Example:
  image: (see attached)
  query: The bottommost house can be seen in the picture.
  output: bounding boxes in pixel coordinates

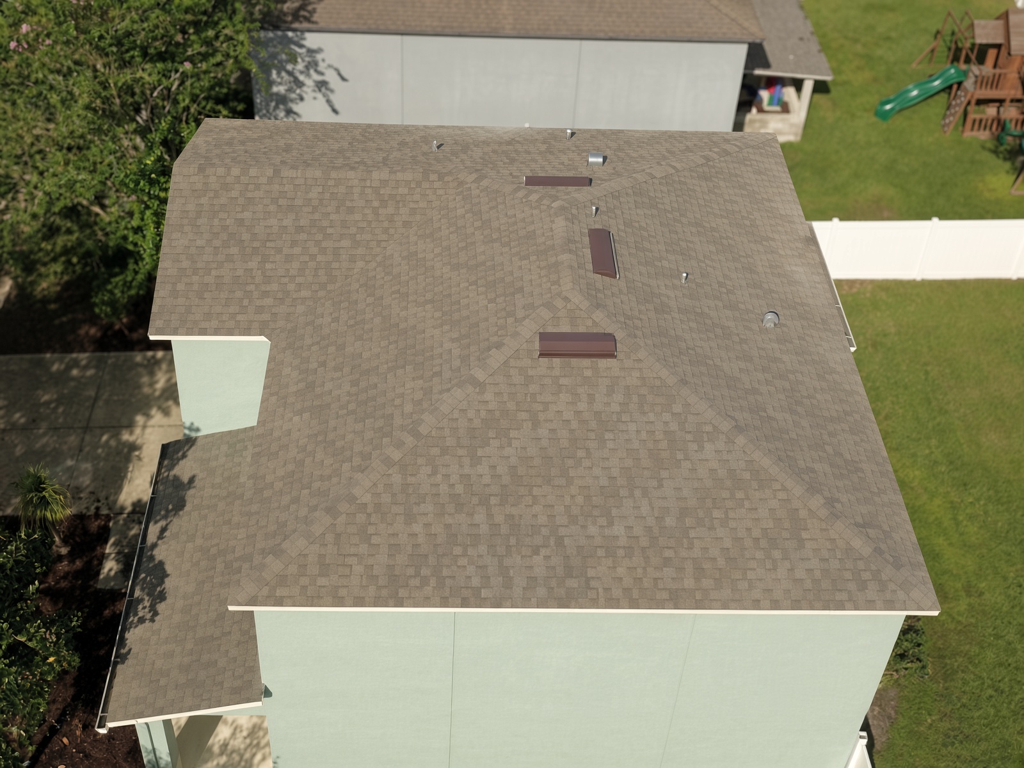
[93,116,940,768]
